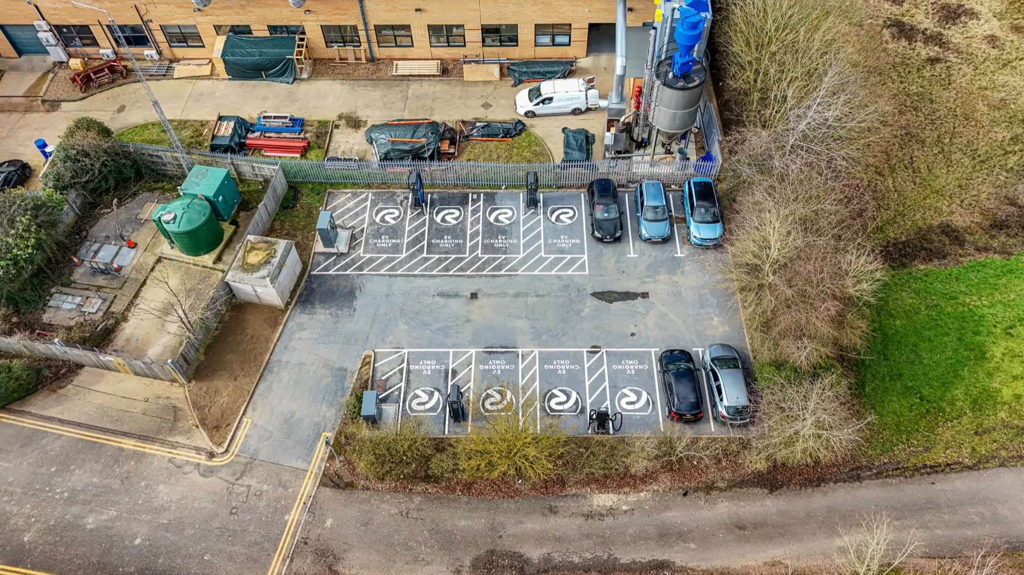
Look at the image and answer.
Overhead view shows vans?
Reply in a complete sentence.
Yes, there's a van down there.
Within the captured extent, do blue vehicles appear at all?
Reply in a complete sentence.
Yes, a blue vehicle can be made out from above.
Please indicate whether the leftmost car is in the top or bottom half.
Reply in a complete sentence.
The leftmost car sits in the top half of the picture.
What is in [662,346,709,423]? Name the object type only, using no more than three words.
car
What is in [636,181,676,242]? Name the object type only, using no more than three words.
car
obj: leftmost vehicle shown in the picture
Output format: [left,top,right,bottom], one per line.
[0,151,34,183]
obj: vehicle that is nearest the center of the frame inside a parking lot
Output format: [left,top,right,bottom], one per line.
[589,179,627,241]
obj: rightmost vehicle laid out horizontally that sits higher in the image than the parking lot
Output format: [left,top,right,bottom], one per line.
[515,70,604,114]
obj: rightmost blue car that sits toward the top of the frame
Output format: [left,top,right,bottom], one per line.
[681,180,726,247]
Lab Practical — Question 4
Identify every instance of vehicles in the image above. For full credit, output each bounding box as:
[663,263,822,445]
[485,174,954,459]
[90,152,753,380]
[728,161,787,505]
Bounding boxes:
[515,70,604,114]
[636,181,676,242]
[704,344,755,425]
[662,346,709,423]
[589,179,627,241]
[681,180,726,247]
[0,151,34,183]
